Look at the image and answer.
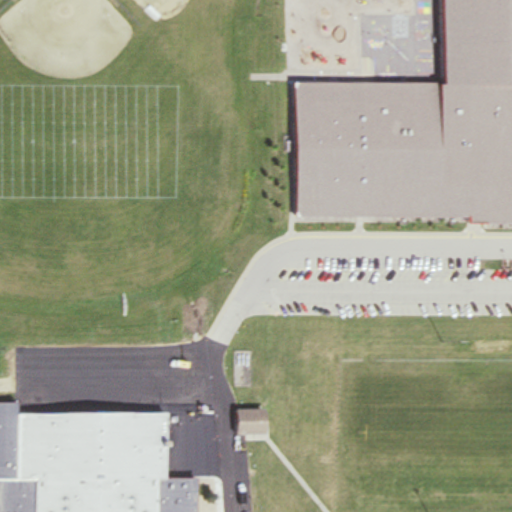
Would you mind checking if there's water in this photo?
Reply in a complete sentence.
No, water can't be seen anywhere here.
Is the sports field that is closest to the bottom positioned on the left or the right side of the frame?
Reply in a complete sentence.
You can find the sports field that is closest to the bottom on the right side of the picture.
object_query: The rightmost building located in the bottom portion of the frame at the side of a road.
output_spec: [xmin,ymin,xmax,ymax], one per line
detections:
[238,409,269,435]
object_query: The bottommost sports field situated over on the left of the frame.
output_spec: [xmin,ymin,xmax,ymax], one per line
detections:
[0,85,179,201]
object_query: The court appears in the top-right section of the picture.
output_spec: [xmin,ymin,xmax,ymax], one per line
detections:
[360,1,440,78]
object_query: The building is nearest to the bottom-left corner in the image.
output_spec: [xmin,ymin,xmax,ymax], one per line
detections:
[0,402,198,512]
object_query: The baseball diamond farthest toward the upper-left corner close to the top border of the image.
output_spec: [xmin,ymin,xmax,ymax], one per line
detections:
[0,0,132,80]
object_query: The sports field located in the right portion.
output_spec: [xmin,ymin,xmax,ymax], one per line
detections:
[341,359,512,512]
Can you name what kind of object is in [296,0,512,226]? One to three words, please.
building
